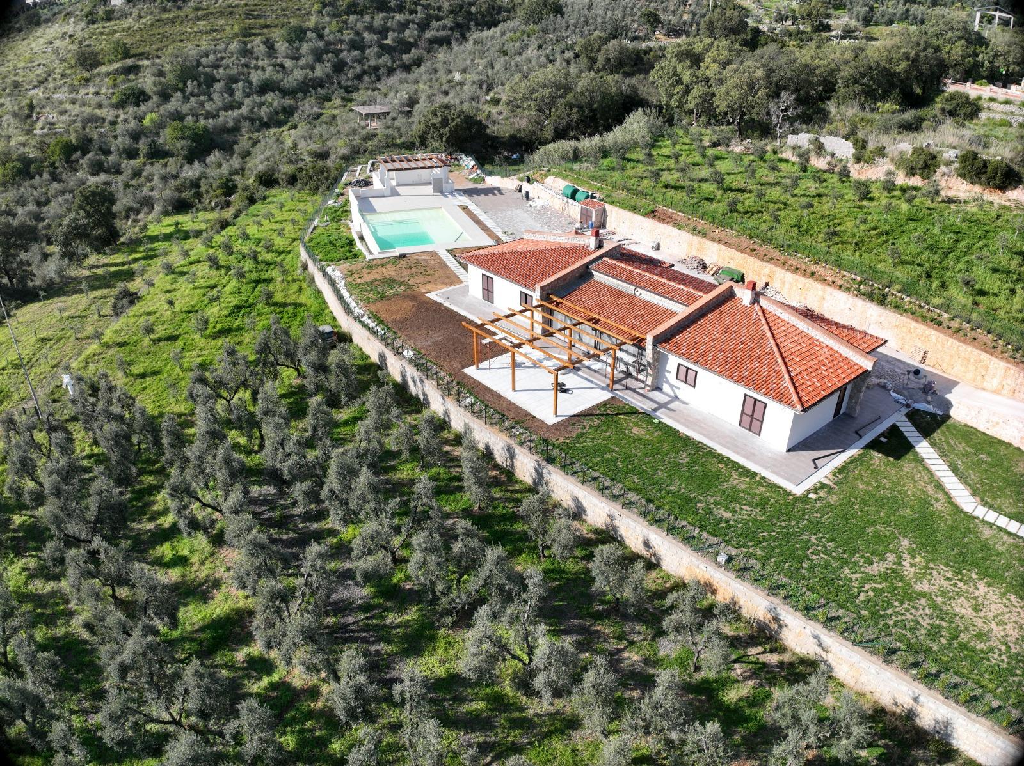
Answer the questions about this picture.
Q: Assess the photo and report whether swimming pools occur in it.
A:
Yes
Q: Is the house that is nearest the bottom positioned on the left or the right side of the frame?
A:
right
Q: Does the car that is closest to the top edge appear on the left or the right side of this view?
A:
left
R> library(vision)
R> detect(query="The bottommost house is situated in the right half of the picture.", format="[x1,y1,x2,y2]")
[457,229,891,451]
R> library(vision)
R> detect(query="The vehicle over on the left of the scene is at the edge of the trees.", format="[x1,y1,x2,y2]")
[316,318,342,347]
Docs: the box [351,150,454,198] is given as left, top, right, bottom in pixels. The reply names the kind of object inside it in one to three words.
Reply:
building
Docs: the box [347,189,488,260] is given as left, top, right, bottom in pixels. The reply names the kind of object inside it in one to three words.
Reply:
swimming pool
